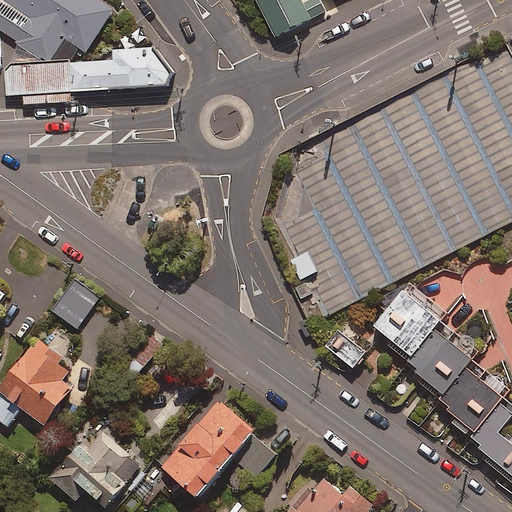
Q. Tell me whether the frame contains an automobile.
Yes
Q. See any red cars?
Yes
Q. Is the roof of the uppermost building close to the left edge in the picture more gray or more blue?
gray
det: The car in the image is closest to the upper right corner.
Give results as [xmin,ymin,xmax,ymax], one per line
[414,58,435,73]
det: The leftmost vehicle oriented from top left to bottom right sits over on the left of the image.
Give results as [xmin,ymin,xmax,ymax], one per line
[0,152,22,170]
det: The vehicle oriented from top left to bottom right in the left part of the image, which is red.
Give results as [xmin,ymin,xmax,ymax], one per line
[62,243,84,262]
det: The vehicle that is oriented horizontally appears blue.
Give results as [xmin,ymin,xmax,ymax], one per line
[420,282,440,294]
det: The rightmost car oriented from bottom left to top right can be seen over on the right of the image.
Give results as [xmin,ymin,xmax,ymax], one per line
[452,304,473,326]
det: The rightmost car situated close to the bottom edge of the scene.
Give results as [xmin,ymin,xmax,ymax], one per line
[467,478,486,496]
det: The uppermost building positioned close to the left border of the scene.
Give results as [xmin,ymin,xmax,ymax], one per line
[0,0,112,64]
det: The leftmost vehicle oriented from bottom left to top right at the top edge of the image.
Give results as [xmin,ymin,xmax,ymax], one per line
[318,22,344,43]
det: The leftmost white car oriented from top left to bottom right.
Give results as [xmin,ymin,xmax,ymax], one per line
[38,226,59,246]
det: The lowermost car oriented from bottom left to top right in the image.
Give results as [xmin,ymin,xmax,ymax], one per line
[271,428,290,450]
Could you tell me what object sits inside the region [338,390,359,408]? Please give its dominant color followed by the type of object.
white car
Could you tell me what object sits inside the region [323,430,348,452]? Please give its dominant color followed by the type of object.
white vehicle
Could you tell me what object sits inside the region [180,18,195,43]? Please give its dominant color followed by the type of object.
gray car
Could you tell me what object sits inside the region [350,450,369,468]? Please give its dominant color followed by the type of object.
red car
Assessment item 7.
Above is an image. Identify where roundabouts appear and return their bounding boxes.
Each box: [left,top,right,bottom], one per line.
[200,94,254,149]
